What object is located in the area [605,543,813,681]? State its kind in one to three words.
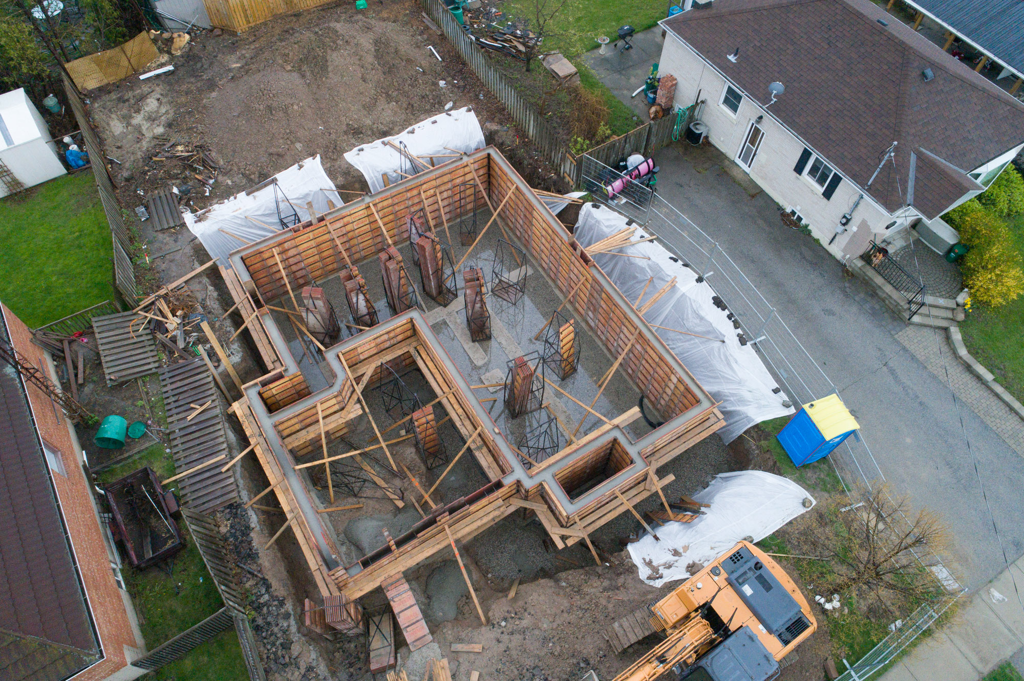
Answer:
work vehicle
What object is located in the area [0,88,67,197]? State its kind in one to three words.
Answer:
shed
